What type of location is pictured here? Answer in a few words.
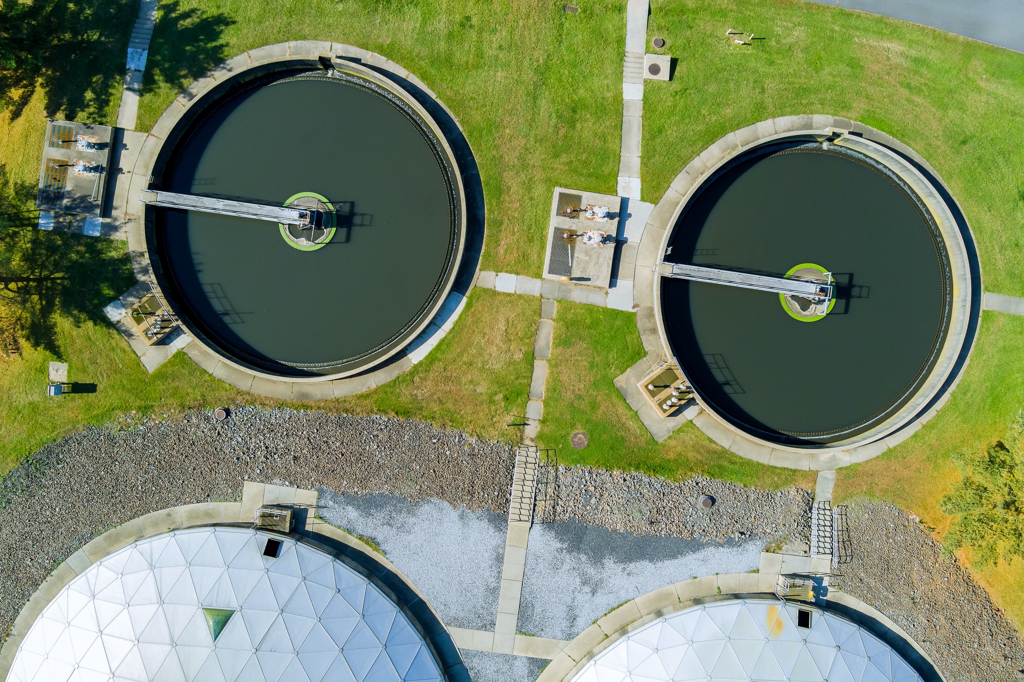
industrial area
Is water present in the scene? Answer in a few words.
Yes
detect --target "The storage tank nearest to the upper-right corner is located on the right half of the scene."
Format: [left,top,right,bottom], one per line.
[641,125,973,452]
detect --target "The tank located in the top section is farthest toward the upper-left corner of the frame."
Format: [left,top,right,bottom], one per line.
[140,49,466,381]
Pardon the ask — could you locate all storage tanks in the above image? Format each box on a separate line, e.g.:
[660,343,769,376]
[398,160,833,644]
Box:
[0,524,446,682]
[565,594,928,682]
[140,49,466,381]
[641,125,973,452]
